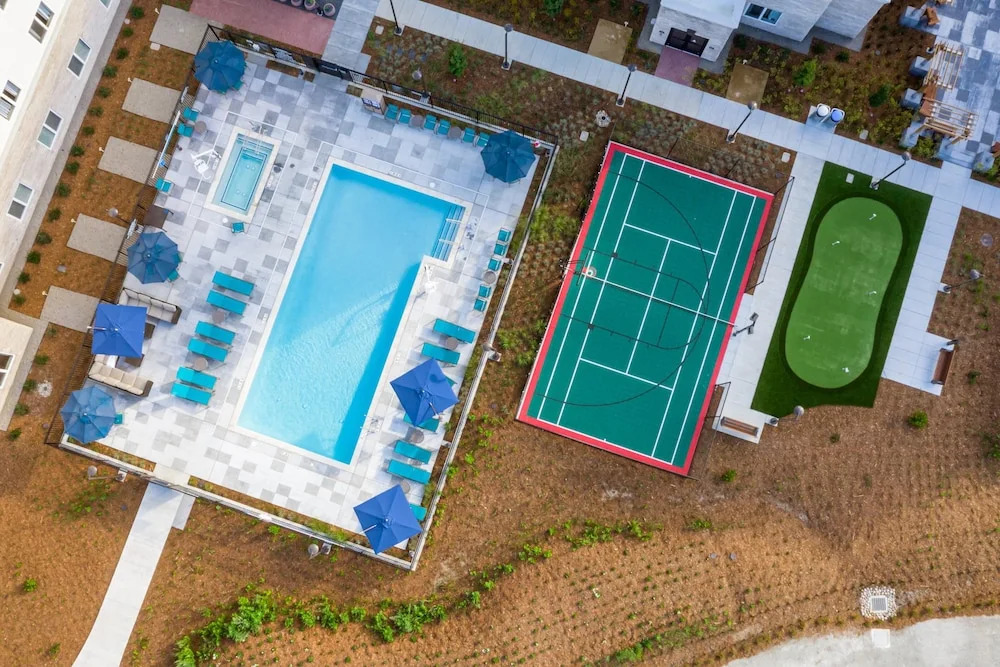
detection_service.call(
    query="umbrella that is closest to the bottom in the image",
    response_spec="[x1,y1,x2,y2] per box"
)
[354,483,423,555]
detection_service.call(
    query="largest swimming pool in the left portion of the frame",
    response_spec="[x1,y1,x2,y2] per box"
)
[225,156,476,478]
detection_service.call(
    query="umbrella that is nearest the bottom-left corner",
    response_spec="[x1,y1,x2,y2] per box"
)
[60,385,118,444]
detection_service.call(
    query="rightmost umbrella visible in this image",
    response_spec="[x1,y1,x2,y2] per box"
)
[479,129,536,184]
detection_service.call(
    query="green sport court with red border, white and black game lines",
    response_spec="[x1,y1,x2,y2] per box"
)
[518,142,774,478]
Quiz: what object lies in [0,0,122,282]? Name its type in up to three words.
building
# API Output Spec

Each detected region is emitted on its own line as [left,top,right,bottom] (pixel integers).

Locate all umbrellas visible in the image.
[354,483,423,555]
[479,129,536,184]
[193,40,246,92]
[125,229,182,285]
[85,306,148,357]
[60,385,118,444]
[390,357,459,431]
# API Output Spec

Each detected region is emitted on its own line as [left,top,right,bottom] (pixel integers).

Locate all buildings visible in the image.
[650,0,892,62]
[0,0,122,282]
